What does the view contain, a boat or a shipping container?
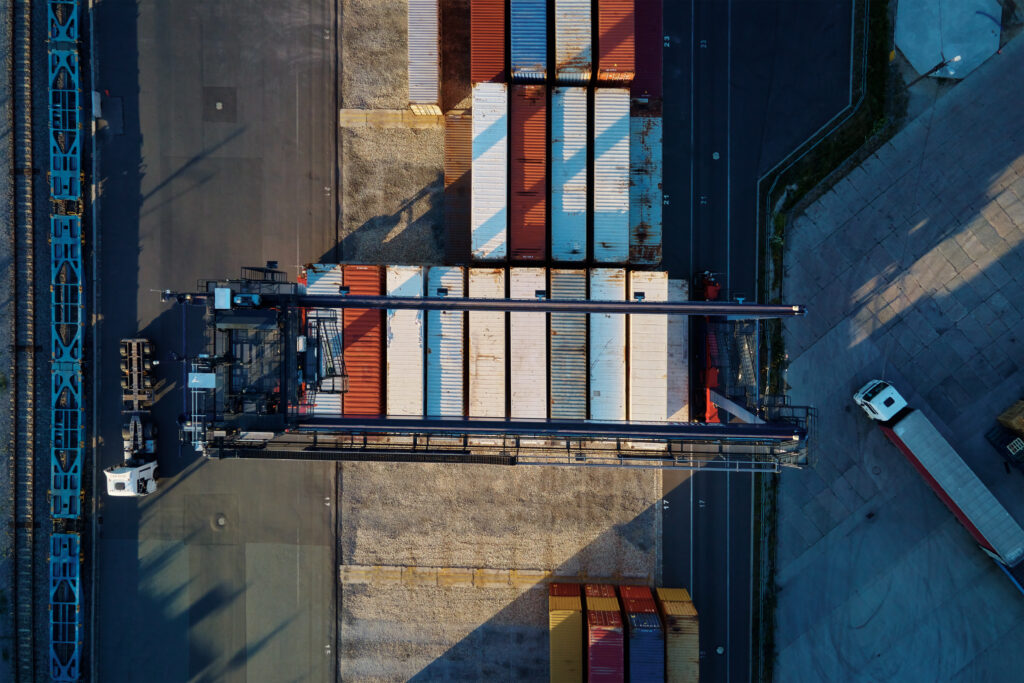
shipping container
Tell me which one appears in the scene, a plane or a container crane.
container crane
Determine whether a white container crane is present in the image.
No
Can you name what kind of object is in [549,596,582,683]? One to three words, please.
shipping container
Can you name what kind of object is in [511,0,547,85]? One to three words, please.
shipping container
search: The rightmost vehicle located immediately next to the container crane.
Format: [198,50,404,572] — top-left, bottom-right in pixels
[850,367,1024,586]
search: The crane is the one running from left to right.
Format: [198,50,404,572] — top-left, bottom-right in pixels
[158,262,818,471]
